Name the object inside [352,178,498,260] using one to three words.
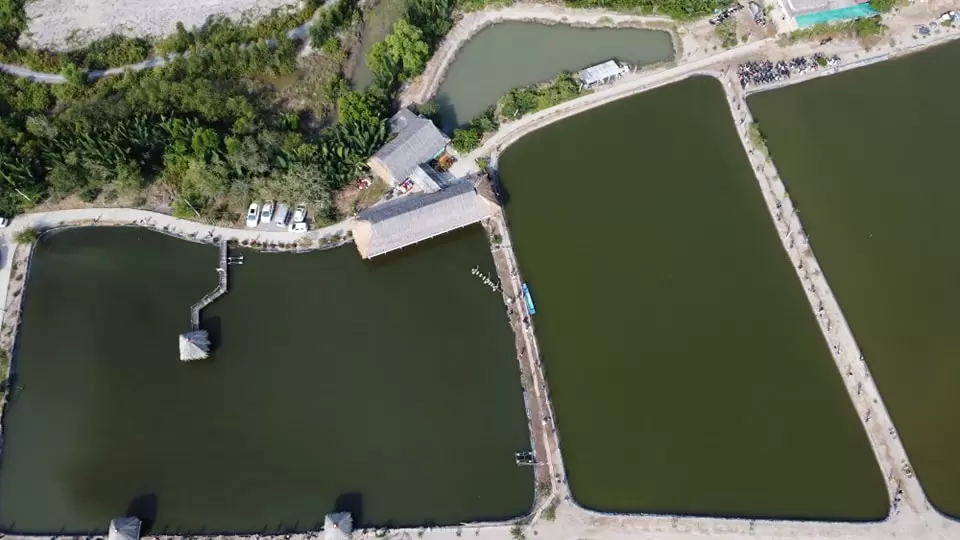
building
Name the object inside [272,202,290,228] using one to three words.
car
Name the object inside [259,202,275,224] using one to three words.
car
